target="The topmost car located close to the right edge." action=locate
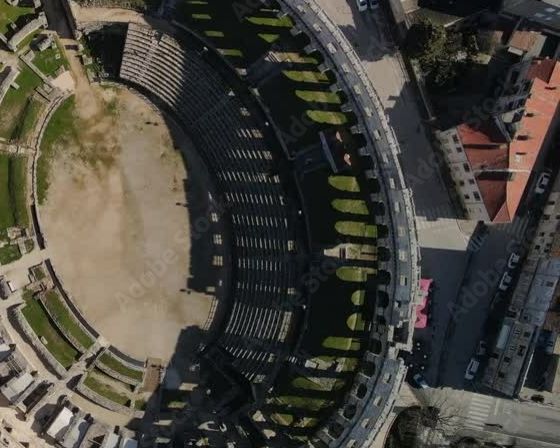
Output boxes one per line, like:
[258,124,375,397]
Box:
[535,172,549,193]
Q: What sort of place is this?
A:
residential area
